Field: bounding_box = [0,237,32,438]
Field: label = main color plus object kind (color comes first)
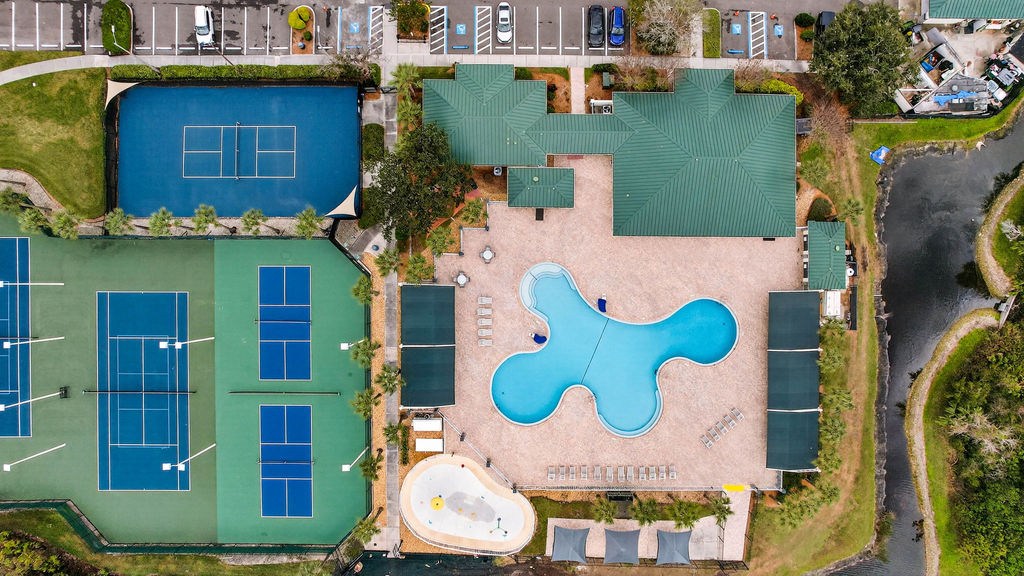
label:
blue tennis court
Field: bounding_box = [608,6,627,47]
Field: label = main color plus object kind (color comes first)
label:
blue car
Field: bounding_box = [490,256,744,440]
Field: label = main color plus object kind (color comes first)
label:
blue swimming pool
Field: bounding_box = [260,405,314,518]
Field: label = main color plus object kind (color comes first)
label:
blue sports court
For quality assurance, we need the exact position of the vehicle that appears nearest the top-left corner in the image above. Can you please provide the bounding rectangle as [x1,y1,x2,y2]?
[194,2,216,46]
